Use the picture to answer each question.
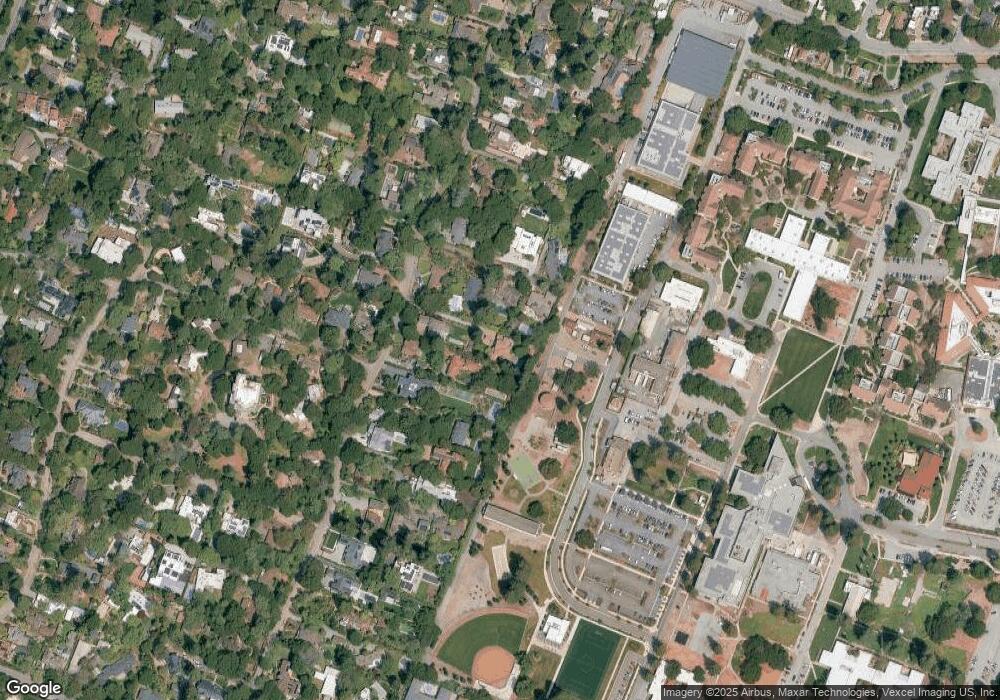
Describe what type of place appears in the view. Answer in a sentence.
This looks like a residential area.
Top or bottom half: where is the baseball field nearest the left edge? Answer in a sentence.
The bottom half of the photo is where the baseball field nearest the left edge is.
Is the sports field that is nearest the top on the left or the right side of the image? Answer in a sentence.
The sports field that is nearest the top sits on the right side.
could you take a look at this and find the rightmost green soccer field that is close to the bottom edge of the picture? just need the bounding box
[551,618,620,700]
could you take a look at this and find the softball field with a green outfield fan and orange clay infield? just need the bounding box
[432,606,536,700]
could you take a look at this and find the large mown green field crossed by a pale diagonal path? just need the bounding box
[759,329,838,423]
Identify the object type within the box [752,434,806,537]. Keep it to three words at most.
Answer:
building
